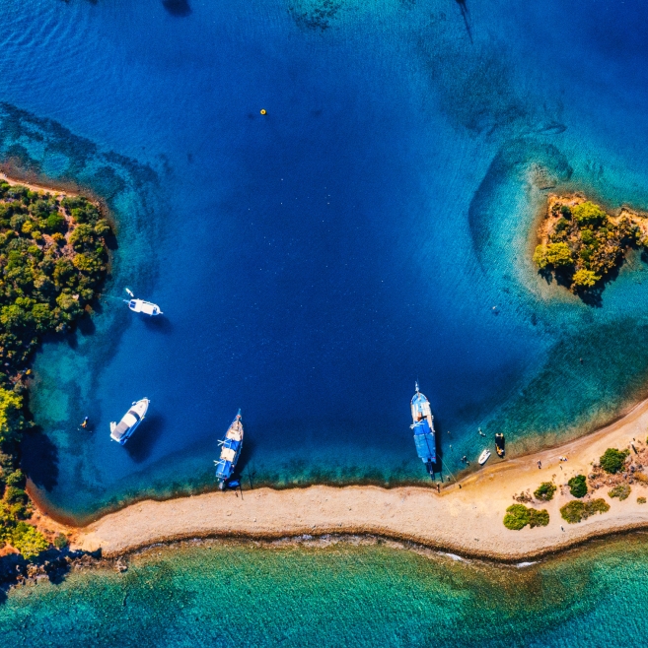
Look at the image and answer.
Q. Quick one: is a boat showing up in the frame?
Yes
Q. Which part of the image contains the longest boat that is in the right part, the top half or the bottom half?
bottom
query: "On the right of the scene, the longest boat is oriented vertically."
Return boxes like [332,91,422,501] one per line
[412,382,439,481]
